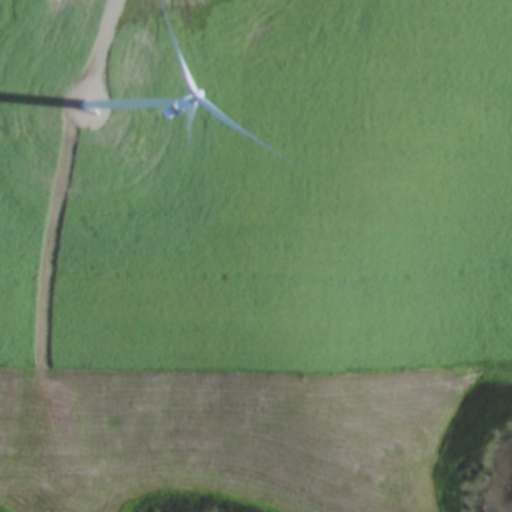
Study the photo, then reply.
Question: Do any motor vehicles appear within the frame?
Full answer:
No, no motor vehicle is visible in the view.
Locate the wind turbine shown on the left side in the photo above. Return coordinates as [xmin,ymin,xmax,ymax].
[80,0,290,159]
